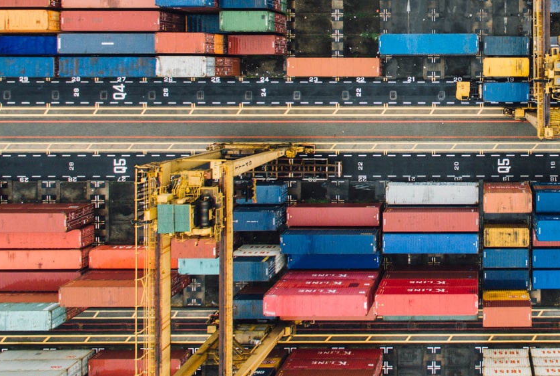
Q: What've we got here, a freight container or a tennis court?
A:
freight container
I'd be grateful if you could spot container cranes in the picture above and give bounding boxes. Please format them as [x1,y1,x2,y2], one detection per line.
[501,0,560,140]
[128,142,312,376]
